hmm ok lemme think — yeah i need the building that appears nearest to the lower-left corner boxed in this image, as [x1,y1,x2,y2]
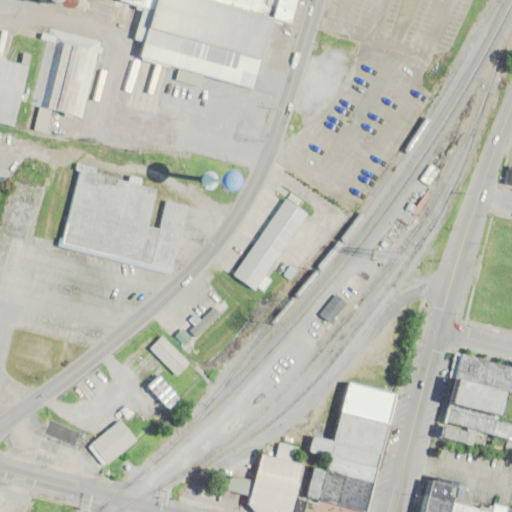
[88,420,137,468]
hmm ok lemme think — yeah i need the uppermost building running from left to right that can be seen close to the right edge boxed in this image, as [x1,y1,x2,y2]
[450,354,512,394]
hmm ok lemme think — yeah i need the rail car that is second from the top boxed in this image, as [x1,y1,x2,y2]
[339,214,363,242]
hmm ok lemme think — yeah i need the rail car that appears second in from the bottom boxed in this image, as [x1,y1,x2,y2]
[294,271,318,298]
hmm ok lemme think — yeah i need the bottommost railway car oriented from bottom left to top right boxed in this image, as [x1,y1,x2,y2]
[270,298,296,325]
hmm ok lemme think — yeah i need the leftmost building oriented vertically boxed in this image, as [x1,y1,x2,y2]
[0,54,32,128]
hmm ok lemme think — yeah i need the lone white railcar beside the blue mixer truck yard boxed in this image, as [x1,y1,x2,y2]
[405,120,430,152]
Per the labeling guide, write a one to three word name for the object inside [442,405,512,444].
building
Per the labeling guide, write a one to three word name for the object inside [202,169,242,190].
water tower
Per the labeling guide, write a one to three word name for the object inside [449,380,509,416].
building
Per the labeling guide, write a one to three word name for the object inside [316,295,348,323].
shed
